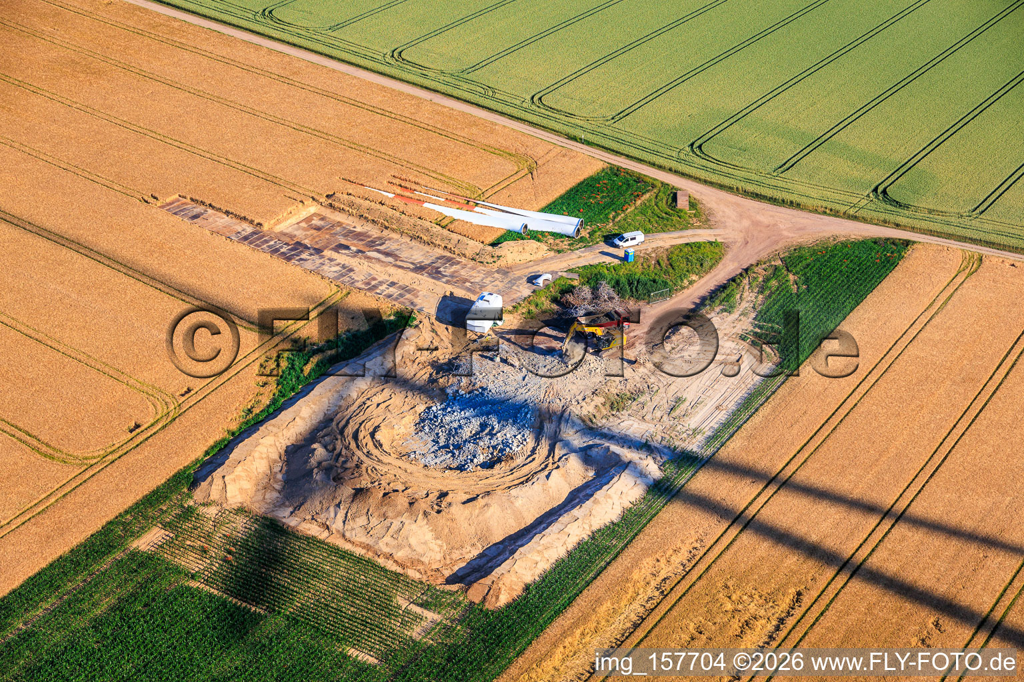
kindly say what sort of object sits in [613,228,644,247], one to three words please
vehicle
